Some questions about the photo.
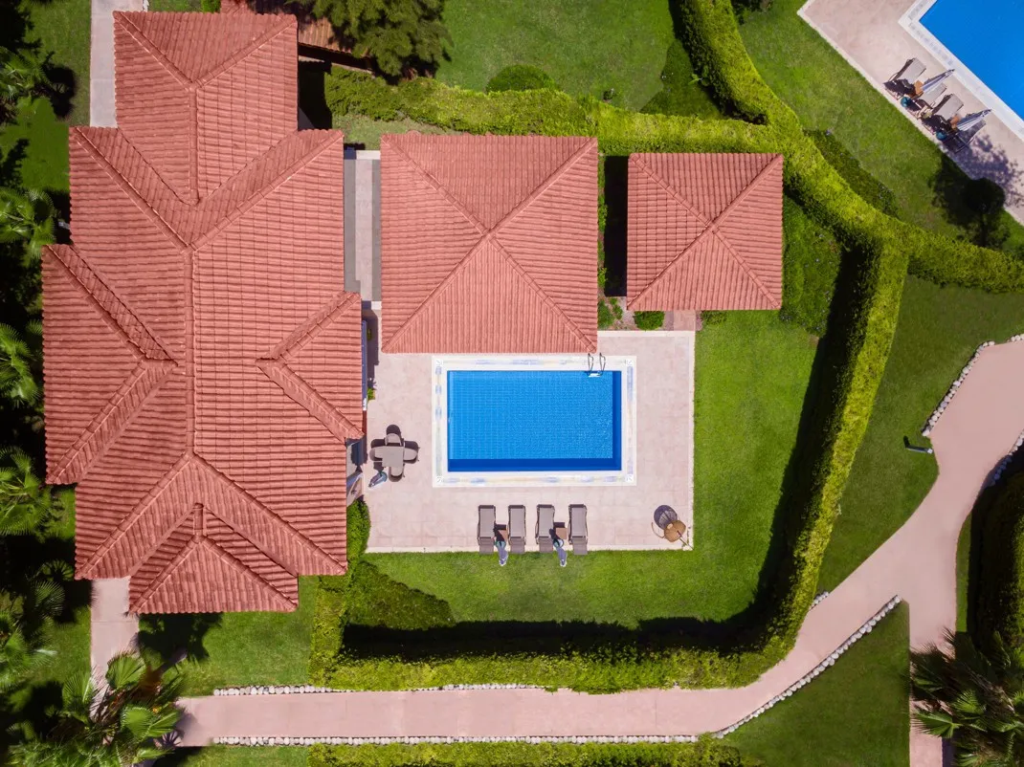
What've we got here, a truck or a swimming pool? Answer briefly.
swimming pool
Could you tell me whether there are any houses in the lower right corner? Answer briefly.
No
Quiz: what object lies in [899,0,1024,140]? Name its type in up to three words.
swimming pool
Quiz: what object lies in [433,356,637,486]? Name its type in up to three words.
swimming pool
